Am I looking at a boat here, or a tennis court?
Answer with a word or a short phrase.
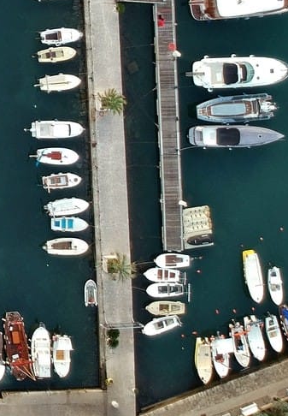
boat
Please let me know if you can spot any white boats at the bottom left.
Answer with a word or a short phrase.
Yes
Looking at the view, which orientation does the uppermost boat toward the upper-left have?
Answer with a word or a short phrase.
horizontally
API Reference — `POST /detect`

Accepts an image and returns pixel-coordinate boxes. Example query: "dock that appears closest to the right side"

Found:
[182,205,214,250]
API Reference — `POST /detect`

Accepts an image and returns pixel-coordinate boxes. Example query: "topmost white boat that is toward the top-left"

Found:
[37,27,82,47]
